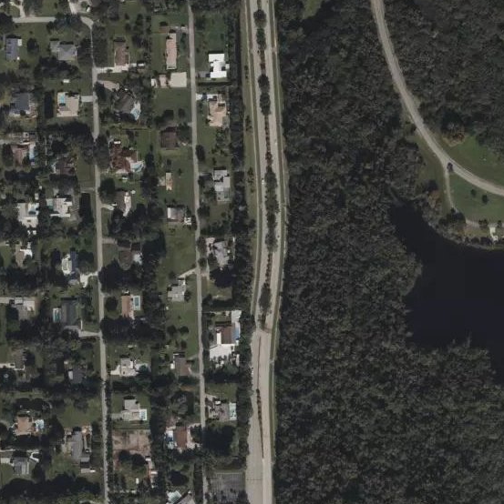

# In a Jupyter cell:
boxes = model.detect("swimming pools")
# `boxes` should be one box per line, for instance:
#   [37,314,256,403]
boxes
[166,437,174,448]
[234,321,240,341]
[133,296,141,311]
[230,404,237,421]
[53,308,61,324]
[168,491,180,504]
[29,143,35,160]
[29,203,38,216]
[135,363,151,373]
[35,420,44,432]
[130,101,141,120]
[58,92,64,110]
[130,159,145,173]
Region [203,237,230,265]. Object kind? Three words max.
house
